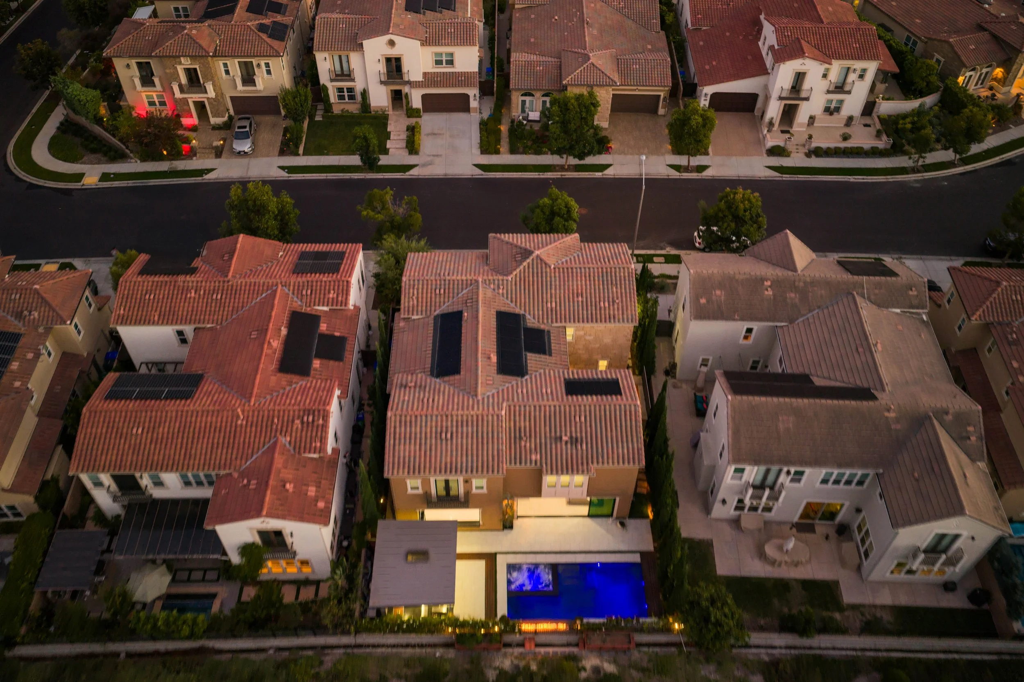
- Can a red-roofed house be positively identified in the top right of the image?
Yes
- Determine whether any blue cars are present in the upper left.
No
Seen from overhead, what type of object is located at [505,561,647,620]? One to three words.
swimming pool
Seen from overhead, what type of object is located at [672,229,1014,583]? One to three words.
house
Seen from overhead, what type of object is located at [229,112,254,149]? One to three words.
car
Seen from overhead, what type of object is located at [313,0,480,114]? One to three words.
house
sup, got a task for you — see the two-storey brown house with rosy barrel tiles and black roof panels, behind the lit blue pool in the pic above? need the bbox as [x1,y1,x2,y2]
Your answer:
[382,232,646,529]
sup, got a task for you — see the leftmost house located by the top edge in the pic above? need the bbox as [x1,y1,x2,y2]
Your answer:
[102,0,323,120]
